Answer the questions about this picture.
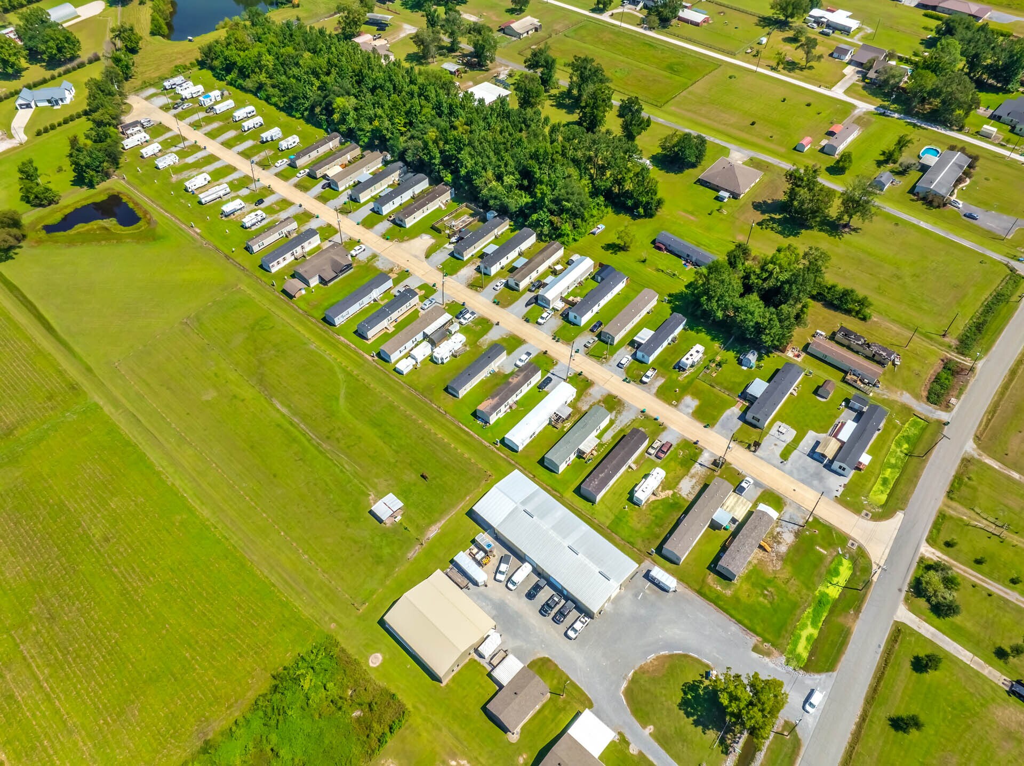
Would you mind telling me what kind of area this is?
residential area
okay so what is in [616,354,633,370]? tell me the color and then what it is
white car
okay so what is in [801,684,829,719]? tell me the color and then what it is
white van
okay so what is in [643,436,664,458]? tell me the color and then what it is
white truck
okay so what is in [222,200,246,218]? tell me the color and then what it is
white vehicle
